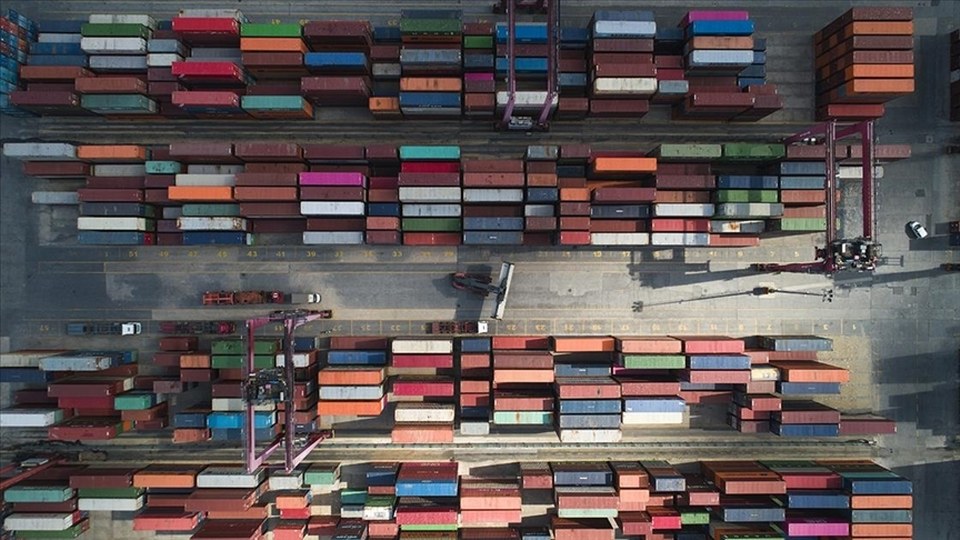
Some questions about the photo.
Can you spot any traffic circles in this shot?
No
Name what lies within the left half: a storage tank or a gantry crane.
gantry crane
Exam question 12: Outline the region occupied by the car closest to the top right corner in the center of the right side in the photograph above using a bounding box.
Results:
[908,219,926,239]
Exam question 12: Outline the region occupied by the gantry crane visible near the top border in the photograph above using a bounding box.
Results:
[488,0,559,130]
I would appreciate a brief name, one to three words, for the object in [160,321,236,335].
vehicle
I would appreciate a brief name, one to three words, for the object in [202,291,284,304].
vehicle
